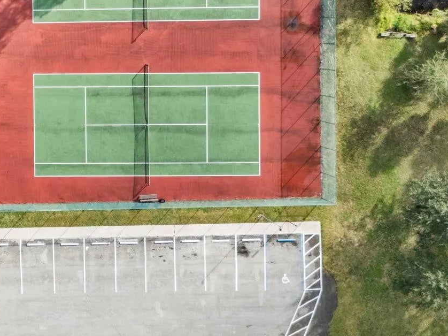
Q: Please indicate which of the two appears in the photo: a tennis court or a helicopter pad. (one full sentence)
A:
Looking from above, you can make out a tennis court.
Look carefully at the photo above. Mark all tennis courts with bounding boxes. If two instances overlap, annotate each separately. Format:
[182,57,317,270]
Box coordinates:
[33,73,261,178]
[32,0,261,22]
